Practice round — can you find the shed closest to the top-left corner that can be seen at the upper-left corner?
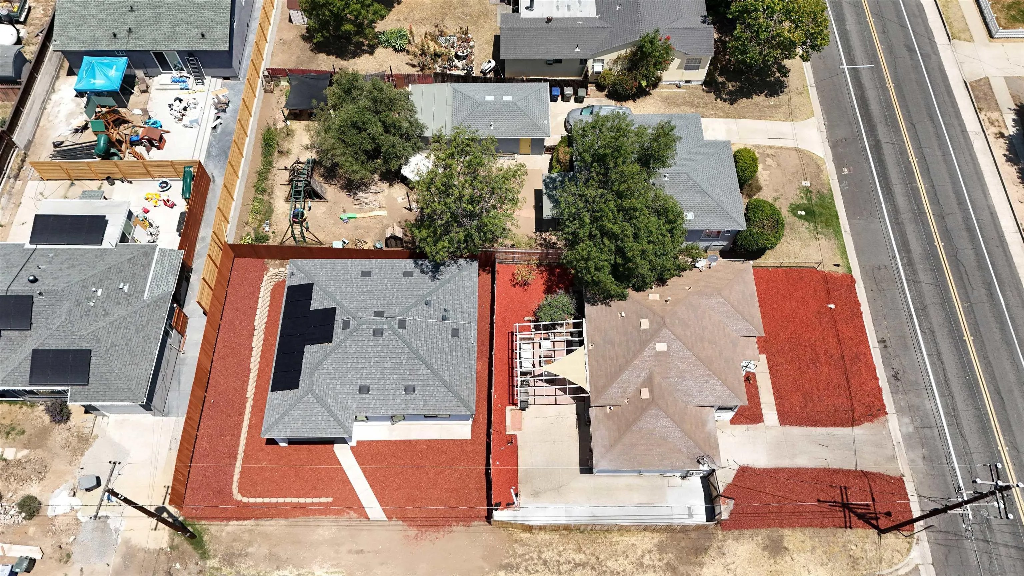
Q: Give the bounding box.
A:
[0,45,37,93]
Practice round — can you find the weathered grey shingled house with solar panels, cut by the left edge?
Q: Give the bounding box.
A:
[0,244,198,416]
